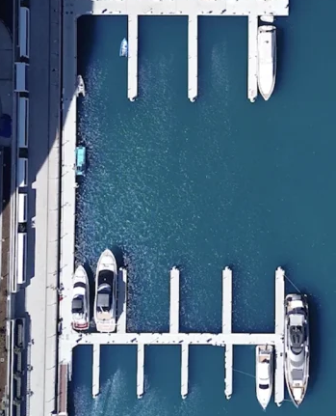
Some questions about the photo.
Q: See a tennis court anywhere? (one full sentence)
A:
No, there is no tennis court in the image.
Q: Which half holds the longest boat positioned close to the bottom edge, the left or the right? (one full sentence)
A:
The longest boat positioned close to the bottom edge appears in the right half of the scene.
